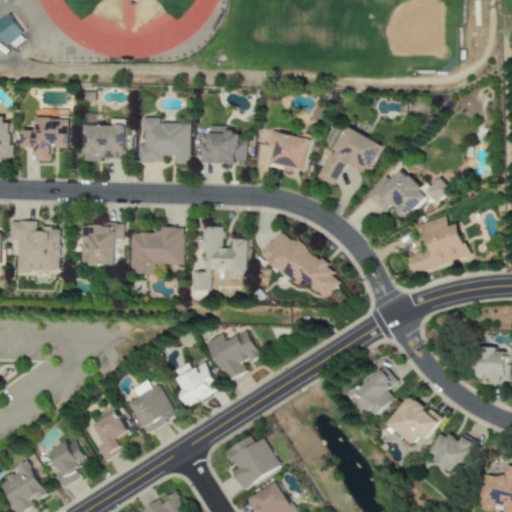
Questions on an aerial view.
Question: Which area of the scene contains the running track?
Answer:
top left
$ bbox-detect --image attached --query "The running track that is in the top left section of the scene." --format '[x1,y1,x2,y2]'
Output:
[40,0,219,58]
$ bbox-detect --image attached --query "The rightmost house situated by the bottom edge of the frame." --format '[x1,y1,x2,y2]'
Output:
[482,464,512,511]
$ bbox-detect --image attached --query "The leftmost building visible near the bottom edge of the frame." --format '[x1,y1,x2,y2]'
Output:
[5,460,48,512]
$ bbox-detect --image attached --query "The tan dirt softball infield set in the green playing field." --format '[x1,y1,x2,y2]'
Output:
[386,0,450,60]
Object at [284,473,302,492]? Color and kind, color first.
blue swimming pool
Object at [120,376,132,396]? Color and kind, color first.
blue swimming pool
